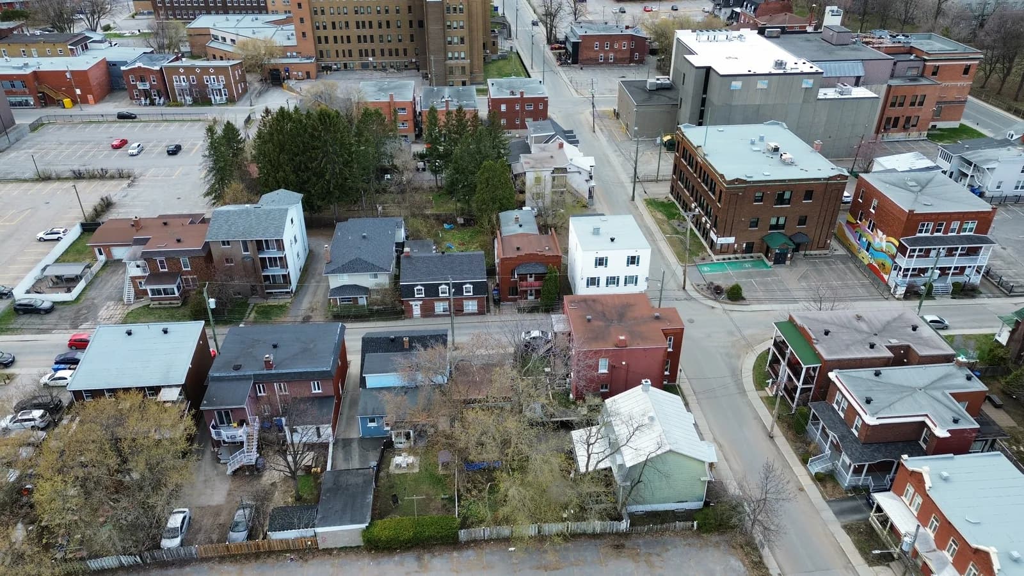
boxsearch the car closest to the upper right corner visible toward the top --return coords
[843,190,855,202]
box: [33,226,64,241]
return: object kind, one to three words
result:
car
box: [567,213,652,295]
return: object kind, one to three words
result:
house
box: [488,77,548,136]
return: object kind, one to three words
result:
house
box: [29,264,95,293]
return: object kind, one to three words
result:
gazebo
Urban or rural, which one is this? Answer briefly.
urban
